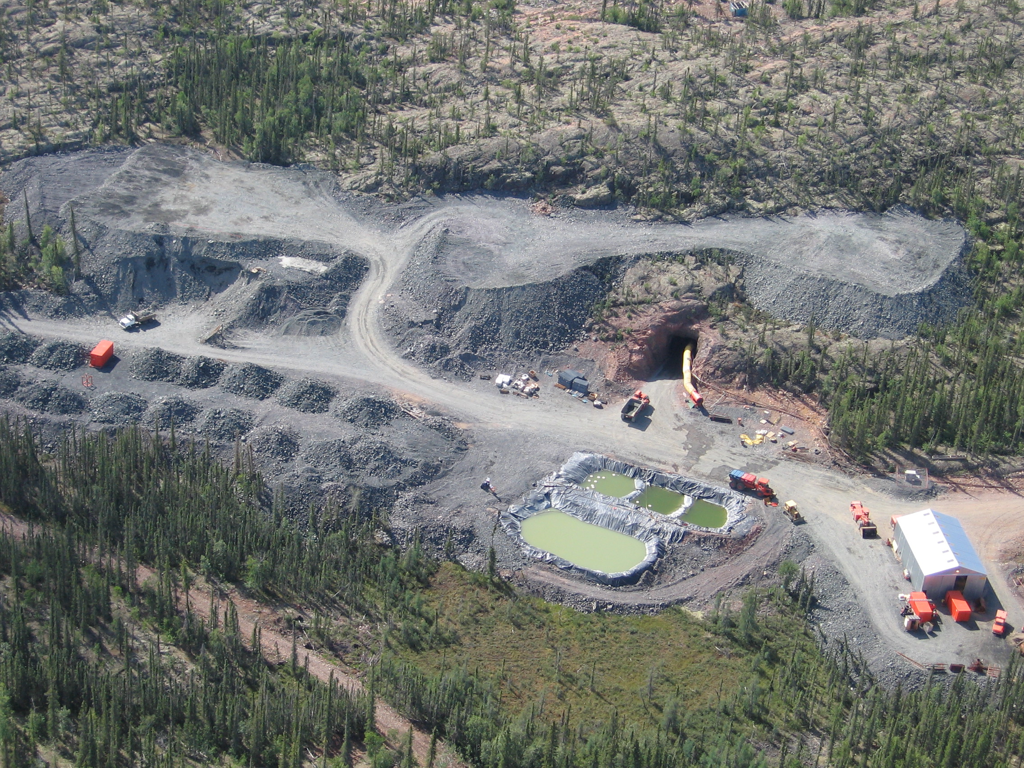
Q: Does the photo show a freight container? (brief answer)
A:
Yes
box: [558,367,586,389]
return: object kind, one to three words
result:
shed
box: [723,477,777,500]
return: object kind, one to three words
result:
truck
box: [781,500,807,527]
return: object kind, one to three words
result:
work vehicle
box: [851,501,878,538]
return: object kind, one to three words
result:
work vehicle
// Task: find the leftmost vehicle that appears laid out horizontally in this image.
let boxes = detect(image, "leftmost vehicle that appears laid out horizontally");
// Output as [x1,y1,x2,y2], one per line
[117,312,161,331]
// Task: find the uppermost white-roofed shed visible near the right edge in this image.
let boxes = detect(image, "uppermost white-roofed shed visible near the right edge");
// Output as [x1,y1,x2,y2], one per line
[898,506,990,592]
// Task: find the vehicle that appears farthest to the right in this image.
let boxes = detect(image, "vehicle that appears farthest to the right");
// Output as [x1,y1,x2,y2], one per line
[993,609,1009,634]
